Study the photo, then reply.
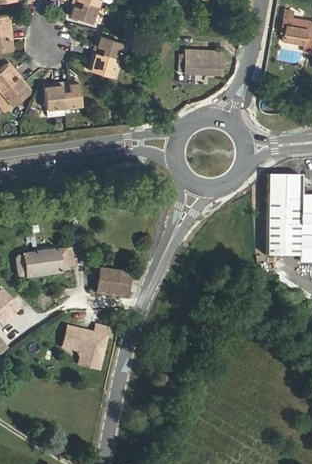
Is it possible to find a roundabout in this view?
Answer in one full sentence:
Yes, the image includes a roundabout.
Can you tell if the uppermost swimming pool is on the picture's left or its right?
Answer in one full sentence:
It is on the right.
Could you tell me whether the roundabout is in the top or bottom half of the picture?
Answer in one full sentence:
It is in the top half that the roundabout appears.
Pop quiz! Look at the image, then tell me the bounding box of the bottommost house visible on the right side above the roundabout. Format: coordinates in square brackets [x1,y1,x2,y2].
[179,50,224,78]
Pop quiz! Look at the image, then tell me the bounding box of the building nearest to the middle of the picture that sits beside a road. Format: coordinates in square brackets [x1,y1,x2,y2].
[97,268,132,298]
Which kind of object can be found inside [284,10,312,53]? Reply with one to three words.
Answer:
house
